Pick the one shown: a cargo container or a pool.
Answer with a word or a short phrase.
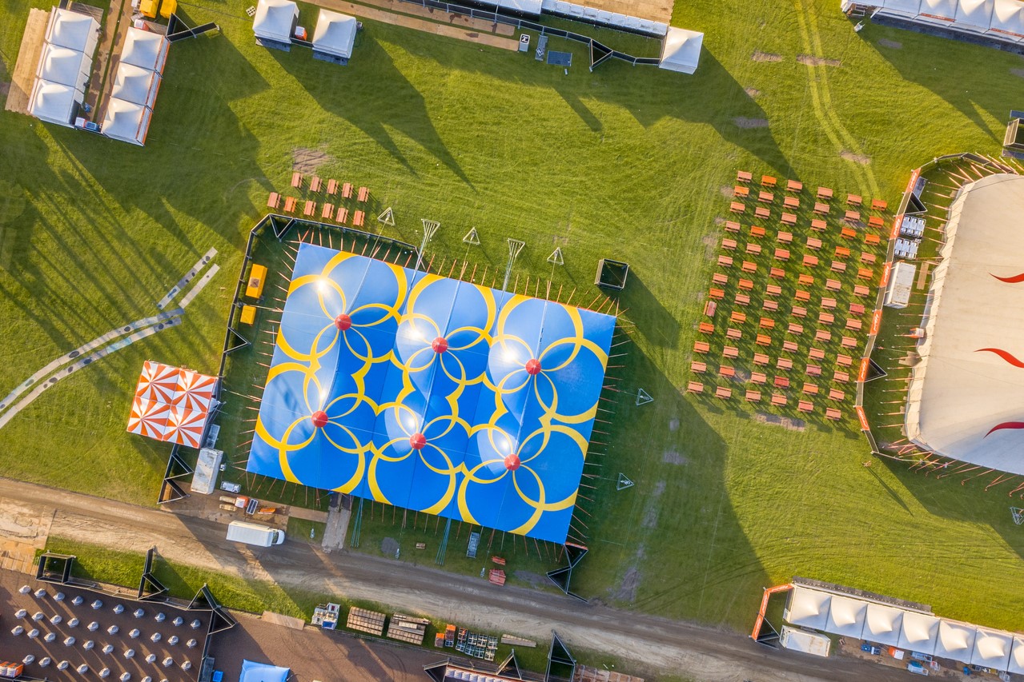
cargo container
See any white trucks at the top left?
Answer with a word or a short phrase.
No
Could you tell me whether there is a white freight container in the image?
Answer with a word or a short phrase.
Yes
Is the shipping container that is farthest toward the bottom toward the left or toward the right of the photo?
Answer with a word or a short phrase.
right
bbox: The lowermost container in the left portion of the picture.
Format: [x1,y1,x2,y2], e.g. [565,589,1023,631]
[191,446,225,494]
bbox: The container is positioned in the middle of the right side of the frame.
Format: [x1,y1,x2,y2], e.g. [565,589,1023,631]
[884,262,916,306]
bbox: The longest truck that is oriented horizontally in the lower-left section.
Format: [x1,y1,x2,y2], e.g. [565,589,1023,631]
[227,520,296,547]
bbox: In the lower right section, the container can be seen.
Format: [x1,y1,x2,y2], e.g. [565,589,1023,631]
[779,624,830,657]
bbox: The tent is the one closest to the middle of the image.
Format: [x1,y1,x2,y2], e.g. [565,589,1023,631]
[237,228,626,557]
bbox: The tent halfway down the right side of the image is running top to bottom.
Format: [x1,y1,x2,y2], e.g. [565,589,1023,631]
[877,151,1024,499]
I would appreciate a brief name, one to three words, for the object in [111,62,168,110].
tent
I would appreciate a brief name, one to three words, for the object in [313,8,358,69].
tent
